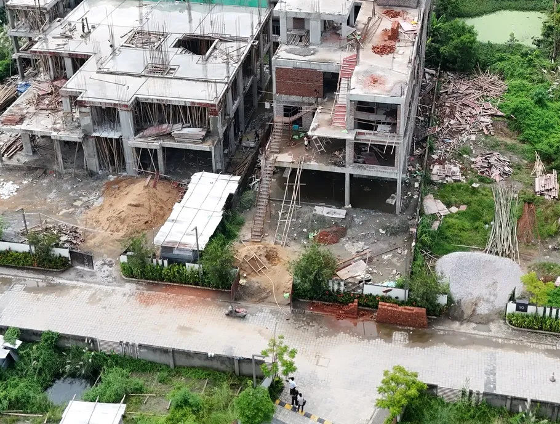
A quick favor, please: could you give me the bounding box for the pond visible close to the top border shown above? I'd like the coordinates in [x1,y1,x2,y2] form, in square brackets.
[458,9,550,44]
